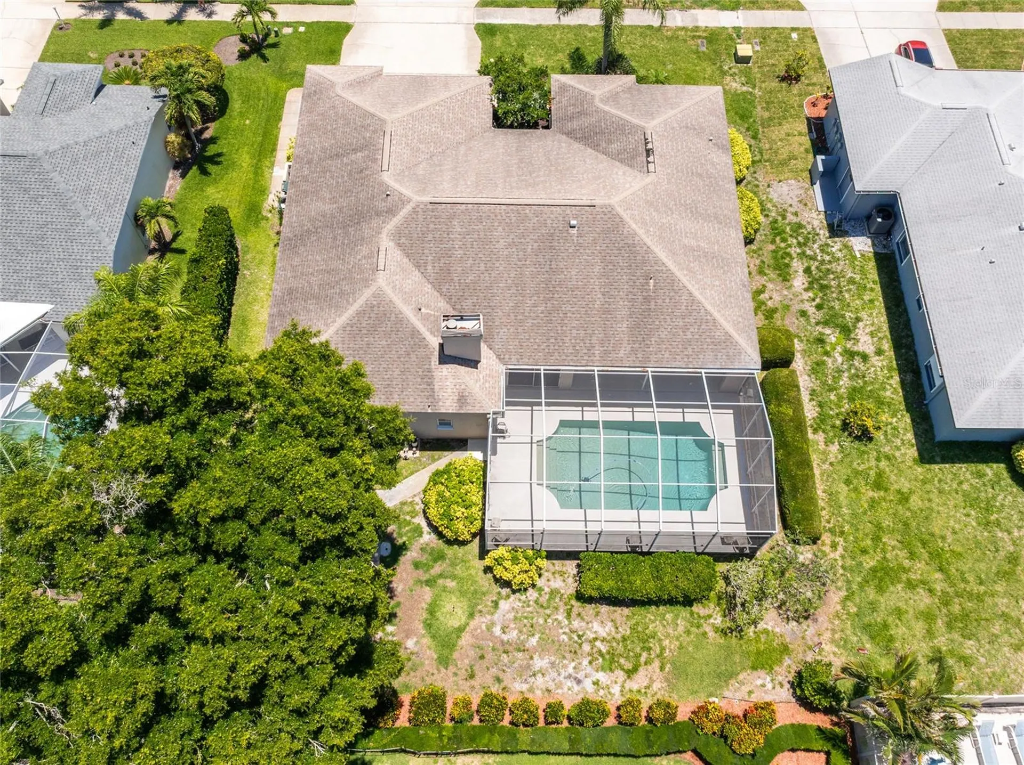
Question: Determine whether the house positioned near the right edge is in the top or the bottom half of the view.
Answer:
top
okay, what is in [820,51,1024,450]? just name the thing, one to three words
house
